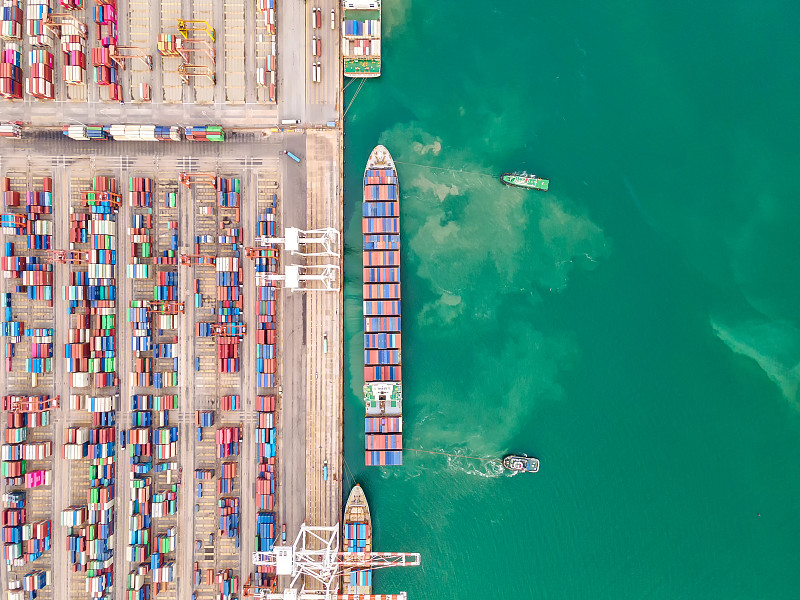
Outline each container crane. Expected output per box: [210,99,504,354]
[176,65,216,88]
[108,46,152,71]
[176,20,216,45]
[178,173,216,191]
[255,262,340,297]
[255,227,340,262]
[10,395,60,412]
[210,321,248,336]
[251,516,420,588]
[146,300,186,314]
[78,191,123,208]
[242,571,278,596]
[42,13,88,40]
[45,250,90,265]
[255,557,399,600]
[175,39,216,64]
[178,255,216,270]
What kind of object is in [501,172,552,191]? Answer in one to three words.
boat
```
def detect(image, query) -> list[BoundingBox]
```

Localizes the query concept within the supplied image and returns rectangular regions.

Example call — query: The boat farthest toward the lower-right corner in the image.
[503,455,541,474]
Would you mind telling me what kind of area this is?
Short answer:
port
